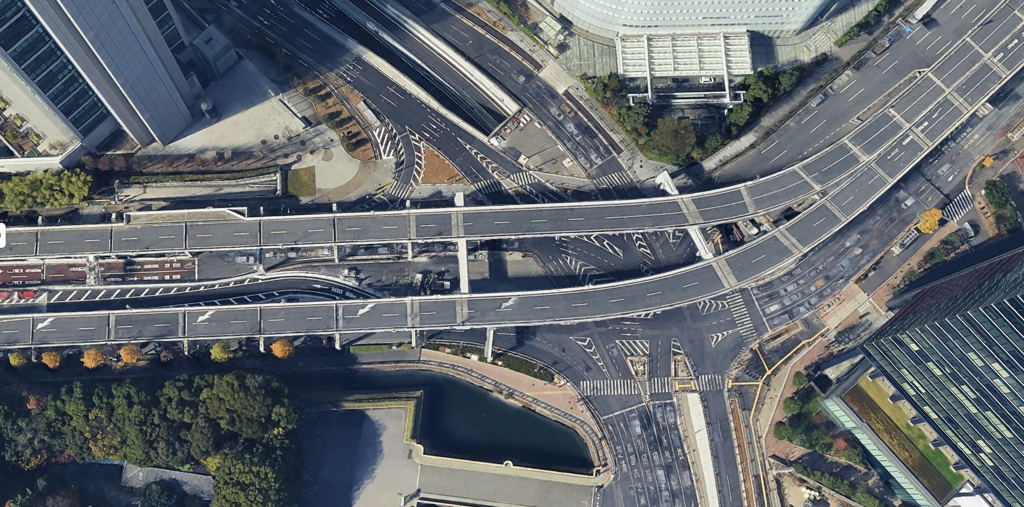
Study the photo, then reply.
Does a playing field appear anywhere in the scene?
No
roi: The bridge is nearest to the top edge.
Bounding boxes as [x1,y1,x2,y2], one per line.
[0,0,1024,294]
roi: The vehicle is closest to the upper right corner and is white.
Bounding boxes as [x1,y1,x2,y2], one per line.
[909,0,944,27]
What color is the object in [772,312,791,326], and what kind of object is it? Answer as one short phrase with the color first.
gray vehicle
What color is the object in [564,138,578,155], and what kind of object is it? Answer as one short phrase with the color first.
gray car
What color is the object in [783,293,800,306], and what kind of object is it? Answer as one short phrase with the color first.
gray vehicle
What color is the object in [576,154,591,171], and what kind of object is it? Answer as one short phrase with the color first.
gray car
